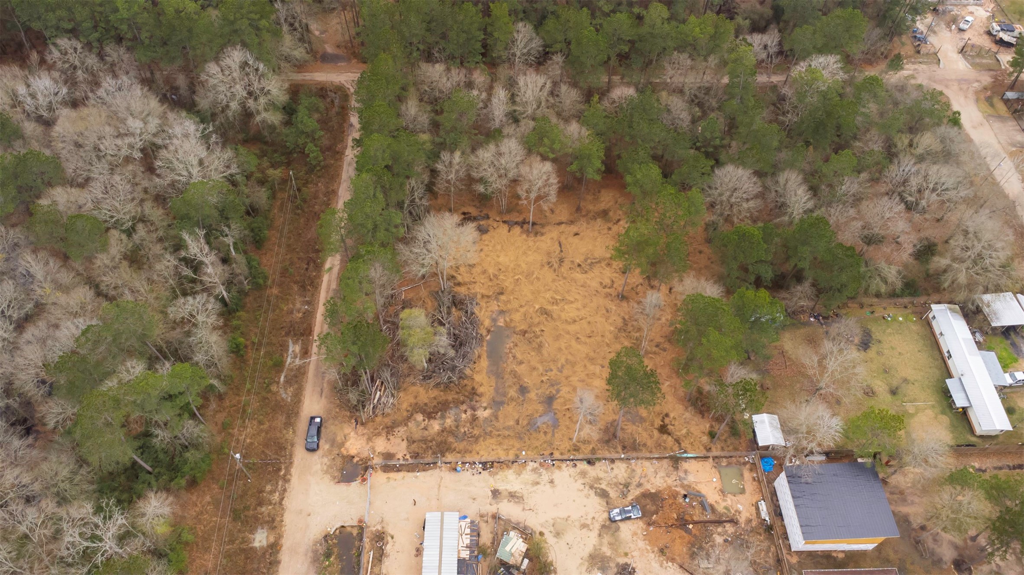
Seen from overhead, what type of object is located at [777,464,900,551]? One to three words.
house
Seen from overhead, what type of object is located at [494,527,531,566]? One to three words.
shed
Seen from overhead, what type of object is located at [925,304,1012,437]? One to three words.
house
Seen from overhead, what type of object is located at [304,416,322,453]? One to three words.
vehicle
